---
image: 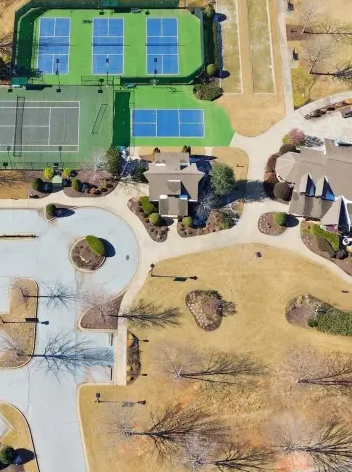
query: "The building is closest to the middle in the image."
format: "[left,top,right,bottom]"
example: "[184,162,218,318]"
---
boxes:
[143,151,205,220]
